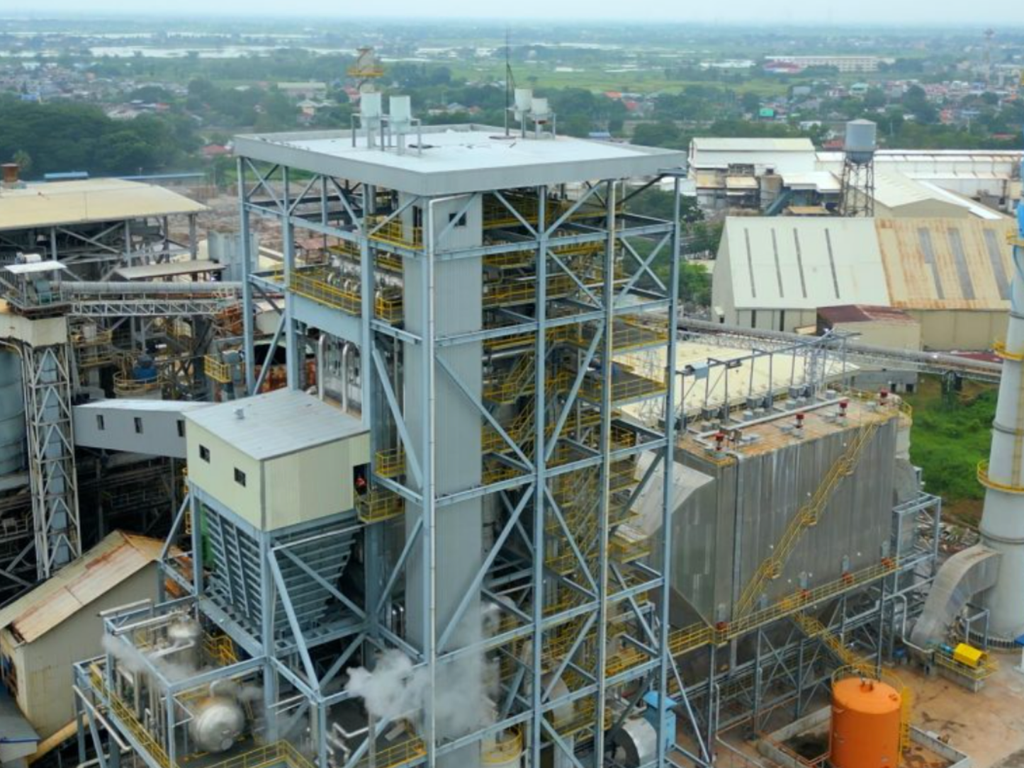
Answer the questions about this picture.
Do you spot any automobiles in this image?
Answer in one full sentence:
No, this view has no automobile in it.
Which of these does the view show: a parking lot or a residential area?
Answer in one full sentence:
What you see here is a residential area.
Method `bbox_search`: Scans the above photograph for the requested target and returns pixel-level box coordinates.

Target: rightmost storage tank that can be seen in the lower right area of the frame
[831,662,920,768]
